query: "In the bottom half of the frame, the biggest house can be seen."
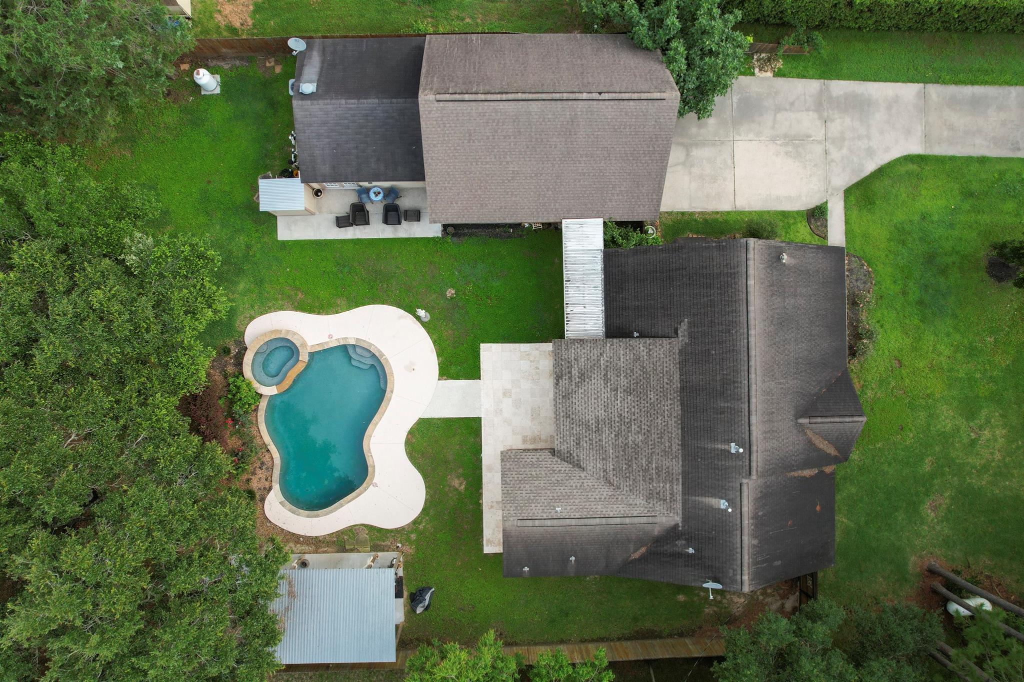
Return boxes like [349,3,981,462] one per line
[501,239,867,593]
